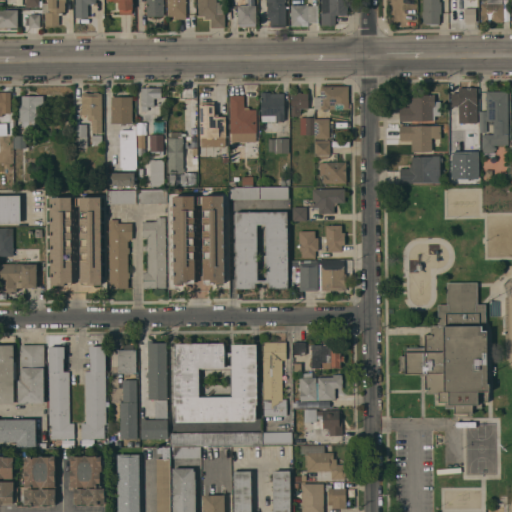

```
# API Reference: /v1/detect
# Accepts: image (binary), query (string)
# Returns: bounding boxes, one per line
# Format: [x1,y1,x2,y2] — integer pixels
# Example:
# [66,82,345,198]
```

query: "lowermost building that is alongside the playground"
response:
[400,282,489,412]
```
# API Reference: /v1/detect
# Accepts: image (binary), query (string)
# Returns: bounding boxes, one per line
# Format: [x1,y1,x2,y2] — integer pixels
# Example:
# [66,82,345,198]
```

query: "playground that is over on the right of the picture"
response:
[401,238,455,308]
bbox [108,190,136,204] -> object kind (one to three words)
building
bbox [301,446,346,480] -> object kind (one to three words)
house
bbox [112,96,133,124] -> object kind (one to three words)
house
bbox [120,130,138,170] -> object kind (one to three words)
building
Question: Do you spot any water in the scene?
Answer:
No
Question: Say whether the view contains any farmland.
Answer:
No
